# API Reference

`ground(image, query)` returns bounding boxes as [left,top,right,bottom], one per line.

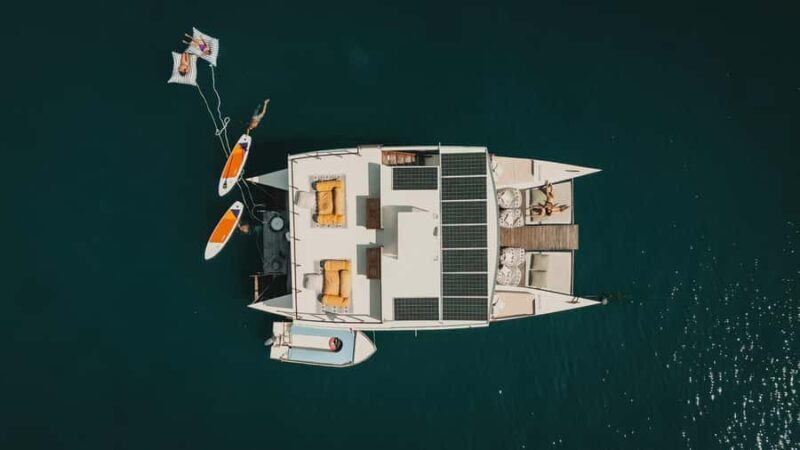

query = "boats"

[266,320,377,367]
[247,143,609,330]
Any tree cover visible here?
No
